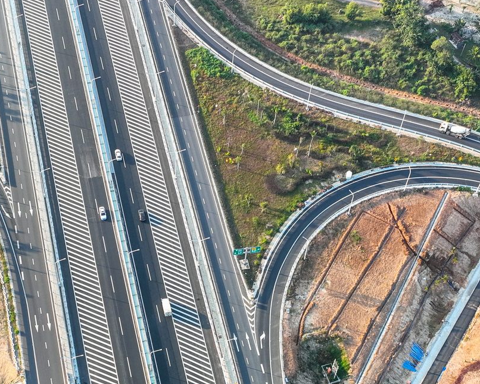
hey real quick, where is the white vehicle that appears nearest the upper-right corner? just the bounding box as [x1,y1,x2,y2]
[440,118,470,137]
